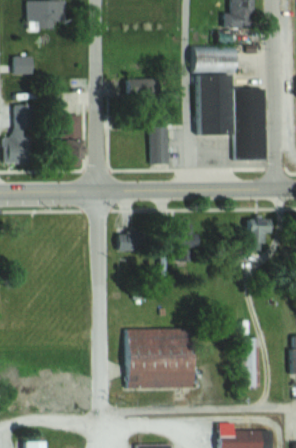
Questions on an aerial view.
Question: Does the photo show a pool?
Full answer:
No, the frame has no pool in it.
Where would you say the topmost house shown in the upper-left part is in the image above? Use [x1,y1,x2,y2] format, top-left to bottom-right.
[26,0,66,34]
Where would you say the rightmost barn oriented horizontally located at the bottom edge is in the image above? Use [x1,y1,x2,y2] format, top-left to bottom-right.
[216,423,274,448]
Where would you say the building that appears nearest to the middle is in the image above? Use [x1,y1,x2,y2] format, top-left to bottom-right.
[117,234,140,252]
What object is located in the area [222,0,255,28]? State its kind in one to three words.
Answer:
house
